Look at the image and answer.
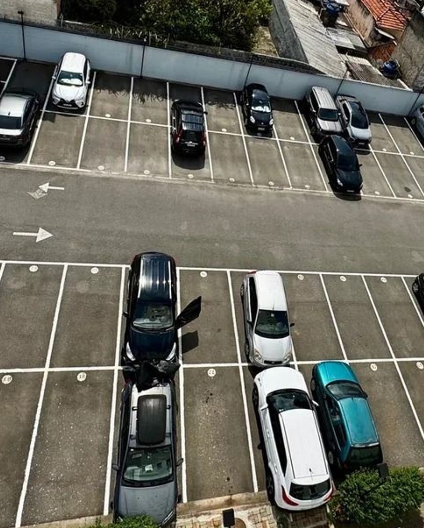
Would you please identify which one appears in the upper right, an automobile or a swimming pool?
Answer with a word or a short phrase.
automobile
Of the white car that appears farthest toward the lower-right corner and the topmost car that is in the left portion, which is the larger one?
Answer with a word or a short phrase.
the white car that appears farthest toward the lower-right corner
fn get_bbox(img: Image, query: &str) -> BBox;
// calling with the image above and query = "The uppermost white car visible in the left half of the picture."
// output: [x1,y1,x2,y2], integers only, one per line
[50,54,89,108]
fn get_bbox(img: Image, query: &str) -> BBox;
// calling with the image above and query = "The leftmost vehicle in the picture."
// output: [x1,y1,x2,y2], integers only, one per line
[0,90,37,147]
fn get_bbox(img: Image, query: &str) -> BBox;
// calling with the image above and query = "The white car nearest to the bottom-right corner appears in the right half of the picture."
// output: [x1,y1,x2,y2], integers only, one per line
[253,368,328,508]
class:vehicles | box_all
[305,88,342,138]
[320,139,360,191]
[50,54,89,108]
[413,107,424,136]
[172,101,207,152]
[311,360,380,470]
[253,368,328,508]
[335,99,371,146]
[114,380,180,526]
[0,90,37,147]
[241,274,294,367]
[125,253,198,377]
[242,87,274,129]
